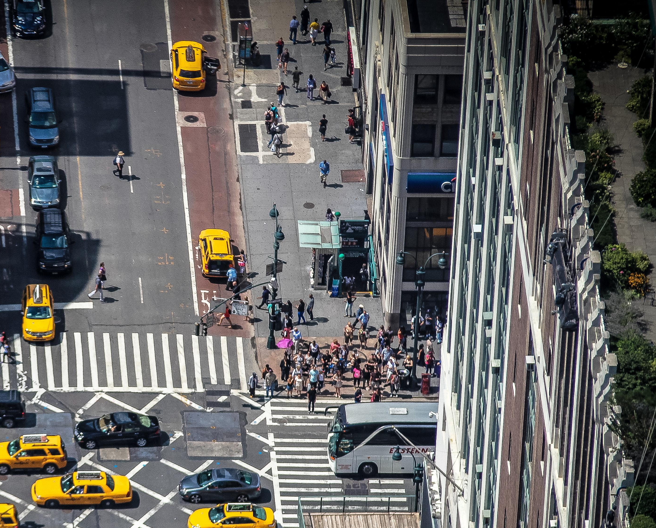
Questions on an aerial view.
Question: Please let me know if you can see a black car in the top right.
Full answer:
No, no black car appears in the top right.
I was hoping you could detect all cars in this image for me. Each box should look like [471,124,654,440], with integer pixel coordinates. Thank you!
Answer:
[25,159,65,212]
[0,388,33,433]
[0,434,69,478]
[185,504,278,528]
[0,504,21,528]
[31,472,132,513]
[168,45,221,95]
[24,88,63,145]
[195,235,249,287]
[0,53,19,96]
[19,281,59,341]
[72,415,163,452]
[33,209,75,272]
[174,470,266,508]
